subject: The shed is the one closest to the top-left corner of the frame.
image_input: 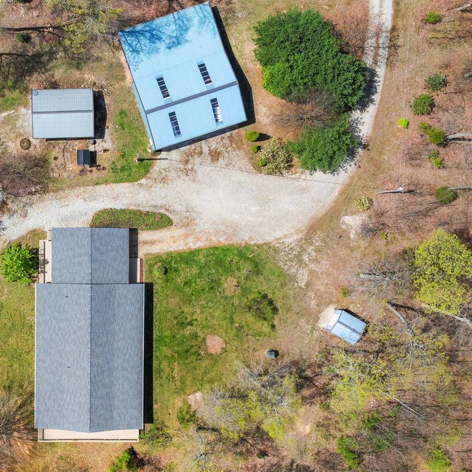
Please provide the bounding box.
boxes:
[31,88,94,140]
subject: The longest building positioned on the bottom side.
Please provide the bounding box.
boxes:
[34,227,145,433]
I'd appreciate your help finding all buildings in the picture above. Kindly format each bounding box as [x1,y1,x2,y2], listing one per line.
[323,310,365,344]
[31,88,94,140]
[117,2,247,151]
[76,150,90,165]
[34,227,145,433]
